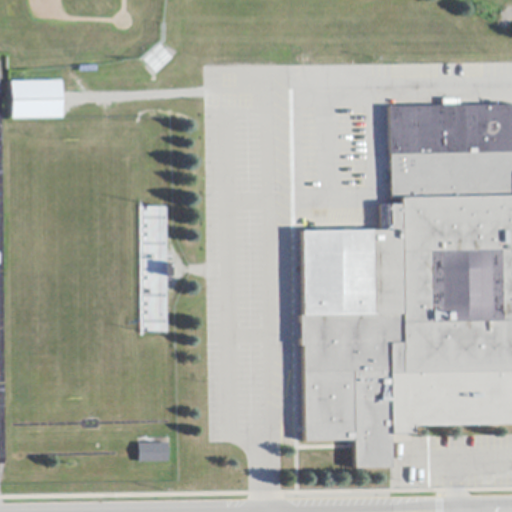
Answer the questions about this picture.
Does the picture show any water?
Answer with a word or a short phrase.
No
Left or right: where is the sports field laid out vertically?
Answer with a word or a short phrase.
left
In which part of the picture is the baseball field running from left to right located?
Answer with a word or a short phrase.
top left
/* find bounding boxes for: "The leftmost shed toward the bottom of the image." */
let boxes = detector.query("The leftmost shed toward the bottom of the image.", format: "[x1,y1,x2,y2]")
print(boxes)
[138,442,168,462]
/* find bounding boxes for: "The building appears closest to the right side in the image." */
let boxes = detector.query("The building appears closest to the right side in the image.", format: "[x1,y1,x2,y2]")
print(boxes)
[300,103,512,468]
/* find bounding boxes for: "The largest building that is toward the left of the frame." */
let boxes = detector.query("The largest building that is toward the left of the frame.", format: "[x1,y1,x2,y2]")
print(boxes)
[12,79,64,119]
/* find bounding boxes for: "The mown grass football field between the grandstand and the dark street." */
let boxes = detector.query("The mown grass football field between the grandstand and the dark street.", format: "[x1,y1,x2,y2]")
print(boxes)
[11,124,133,417]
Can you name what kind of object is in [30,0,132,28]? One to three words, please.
baseball field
